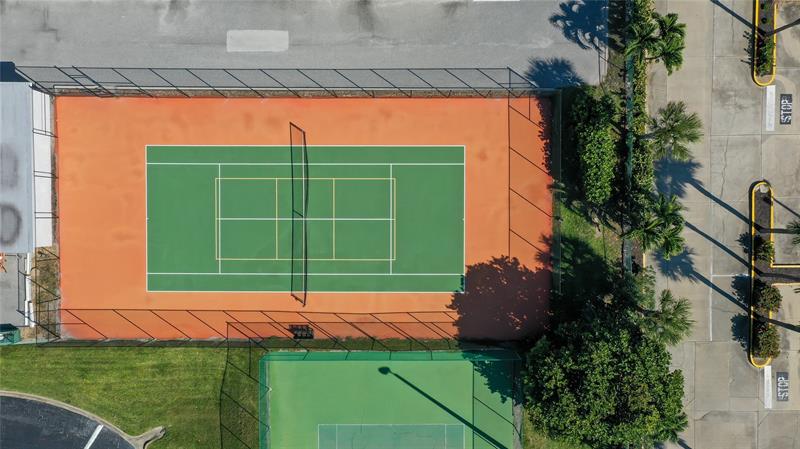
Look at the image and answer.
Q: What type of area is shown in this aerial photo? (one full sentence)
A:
This image shows a sports ground.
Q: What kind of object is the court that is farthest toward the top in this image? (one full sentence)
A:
It turns out the court that is farthest toward the top is a tennis court.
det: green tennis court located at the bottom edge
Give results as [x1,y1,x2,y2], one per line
[269,351,514,449]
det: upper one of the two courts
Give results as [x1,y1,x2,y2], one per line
[56,96,553,339]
